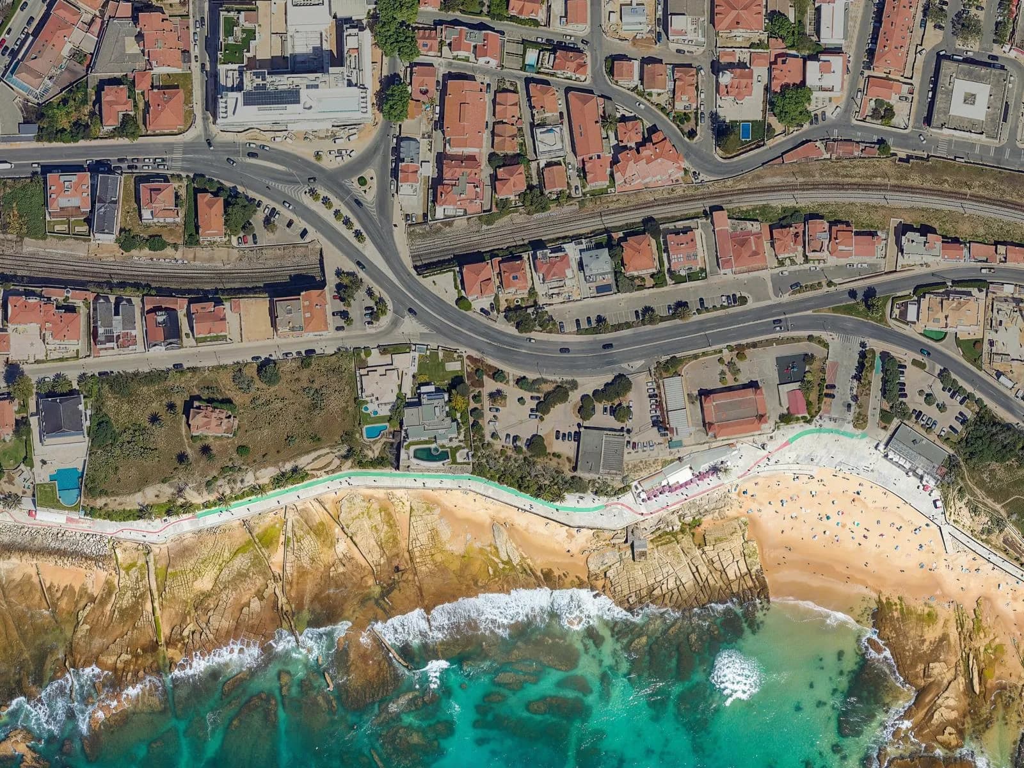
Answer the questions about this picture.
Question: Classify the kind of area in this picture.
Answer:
residential area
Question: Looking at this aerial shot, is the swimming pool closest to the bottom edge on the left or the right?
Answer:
left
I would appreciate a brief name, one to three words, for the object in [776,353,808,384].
playground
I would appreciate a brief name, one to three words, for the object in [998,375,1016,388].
vehicle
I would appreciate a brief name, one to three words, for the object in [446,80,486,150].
house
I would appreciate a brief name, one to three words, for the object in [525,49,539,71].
swimming pool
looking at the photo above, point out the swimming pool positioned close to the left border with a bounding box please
[49,467,83,507]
